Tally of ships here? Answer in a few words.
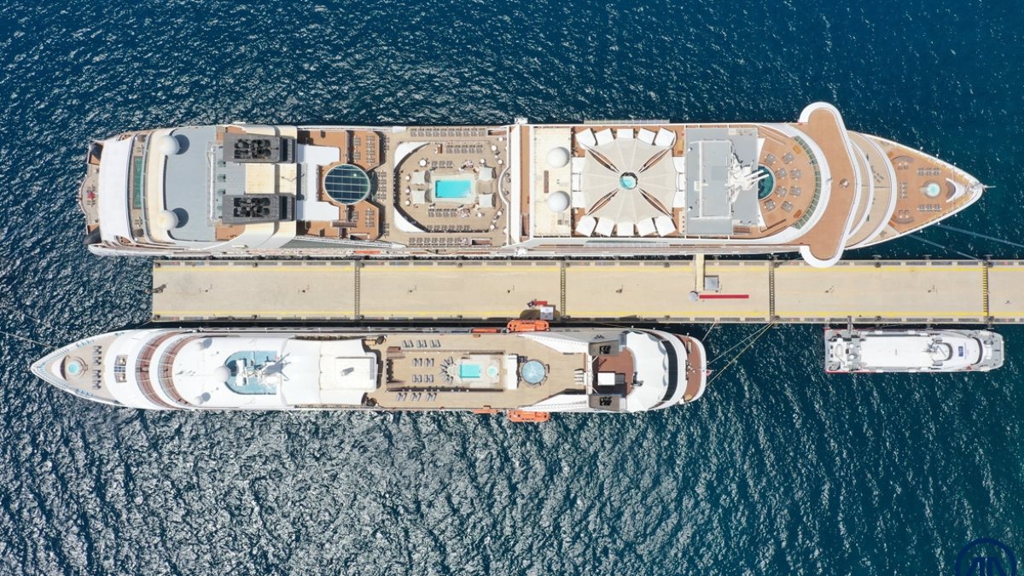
3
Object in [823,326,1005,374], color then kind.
white ship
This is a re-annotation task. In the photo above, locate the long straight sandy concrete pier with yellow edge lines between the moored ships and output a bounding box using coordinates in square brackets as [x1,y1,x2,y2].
[153,259,1024,323]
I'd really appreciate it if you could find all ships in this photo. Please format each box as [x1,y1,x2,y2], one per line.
[823,326,1005,374]
[29,326,707,416]
[80,103,995,268]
